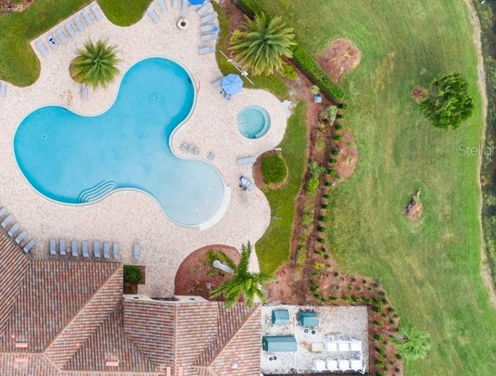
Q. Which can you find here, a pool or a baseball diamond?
pool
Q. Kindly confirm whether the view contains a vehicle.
No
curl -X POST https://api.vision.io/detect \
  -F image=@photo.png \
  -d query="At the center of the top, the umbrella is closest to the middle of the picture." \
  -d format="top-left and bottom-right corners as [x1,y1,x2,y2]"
[219,75,241,96]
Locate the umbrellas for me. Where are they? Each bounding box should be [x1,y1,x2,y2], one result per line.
[219,75,241,96]
[186,0,206,6]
